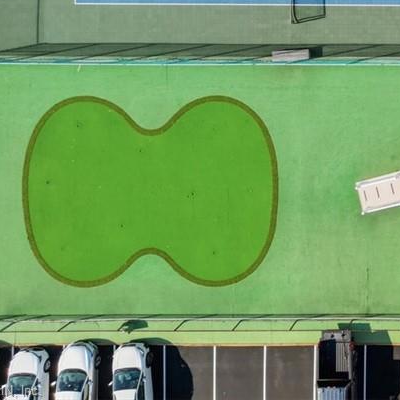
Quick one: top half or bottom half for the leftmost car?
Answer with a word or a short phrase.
bottom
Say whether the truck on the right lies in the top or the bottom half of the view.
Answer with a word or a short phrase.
bottom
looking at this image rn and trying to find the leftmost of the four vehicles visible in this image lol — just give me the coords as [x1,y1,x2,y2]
[3,344,52,400]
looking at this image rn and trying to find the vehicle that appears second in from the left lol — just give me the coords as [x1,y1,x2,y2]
[52,339,100,400]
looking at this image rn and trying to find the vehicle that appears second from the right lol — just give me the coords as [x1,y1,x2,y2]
[107,339,154,400]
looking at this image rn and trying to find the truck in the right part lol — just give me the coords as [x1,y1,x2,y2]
[318,331,357,400]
